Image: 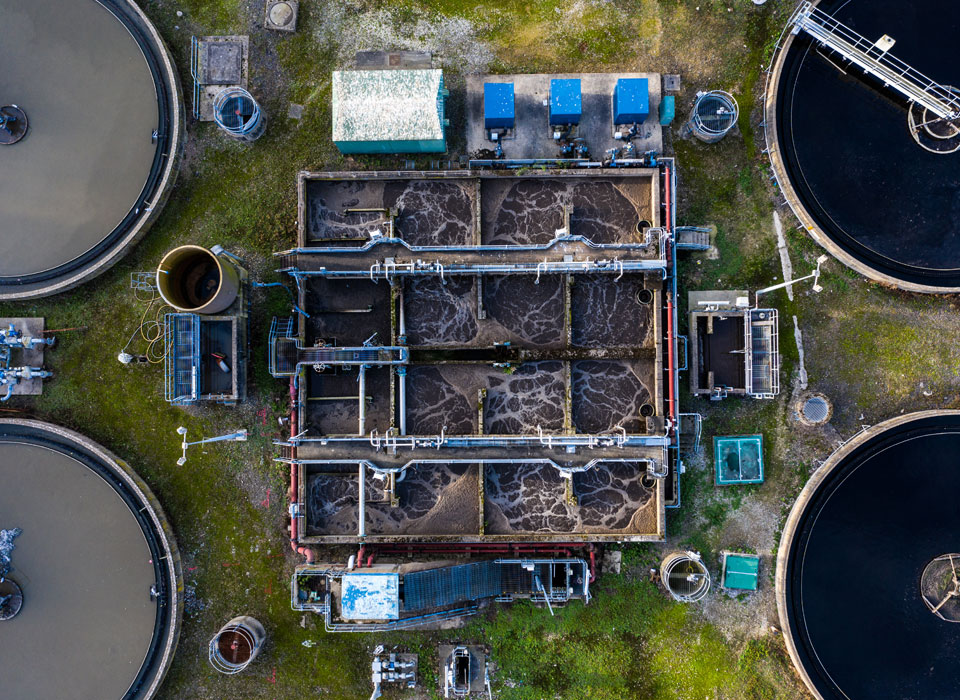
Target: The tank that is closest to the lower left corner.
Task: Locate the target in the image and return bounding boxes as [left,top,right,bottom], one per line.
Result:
[0,416,188,700]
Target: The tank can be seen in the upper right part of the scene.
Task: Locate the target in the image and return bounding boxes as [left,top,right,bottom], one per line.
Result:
[751,0,960,296]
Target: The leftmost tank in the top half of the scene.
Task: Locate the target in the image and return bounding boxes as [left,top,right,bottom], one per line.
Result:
[0,0,187,302]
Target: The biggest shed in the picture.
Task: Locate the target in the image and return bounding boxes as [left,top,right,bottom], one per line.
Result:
[331,69,451,153]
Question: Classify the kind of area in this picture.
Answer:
industrial area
